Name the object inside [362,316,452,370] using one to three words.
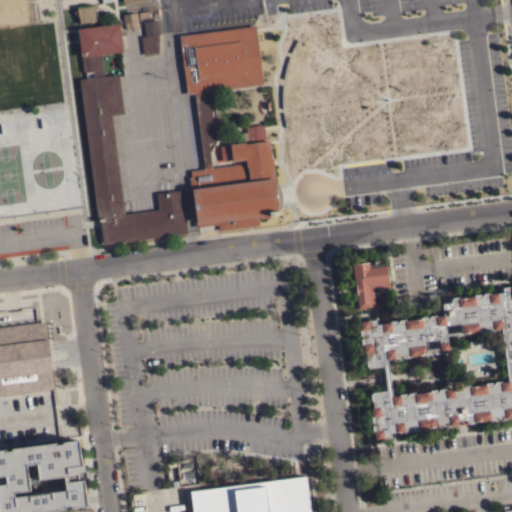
building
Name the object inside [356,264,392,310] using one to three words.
house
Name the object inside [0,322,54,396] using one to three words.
building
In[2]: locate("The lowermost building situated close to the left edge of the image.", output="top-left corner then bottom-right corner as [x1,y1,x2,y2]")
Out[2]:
[0,441,87,512]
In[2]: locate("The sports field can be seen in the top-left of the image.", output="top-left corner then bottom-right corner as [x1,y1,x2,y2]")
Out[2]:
[0,24,63,110]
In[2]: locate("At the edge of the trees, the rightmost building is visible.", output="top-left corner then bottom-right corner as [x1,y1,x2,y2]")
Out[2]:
[444,288,512,384]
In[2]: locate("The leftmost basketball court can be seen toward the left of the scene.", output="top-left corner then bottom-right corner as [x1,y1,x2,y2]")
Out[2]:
[0,146,26,204]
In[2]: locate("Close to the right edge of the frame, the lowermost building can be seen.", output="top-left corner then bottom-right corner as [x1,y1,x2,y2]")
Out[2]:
[372,382,512,442]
